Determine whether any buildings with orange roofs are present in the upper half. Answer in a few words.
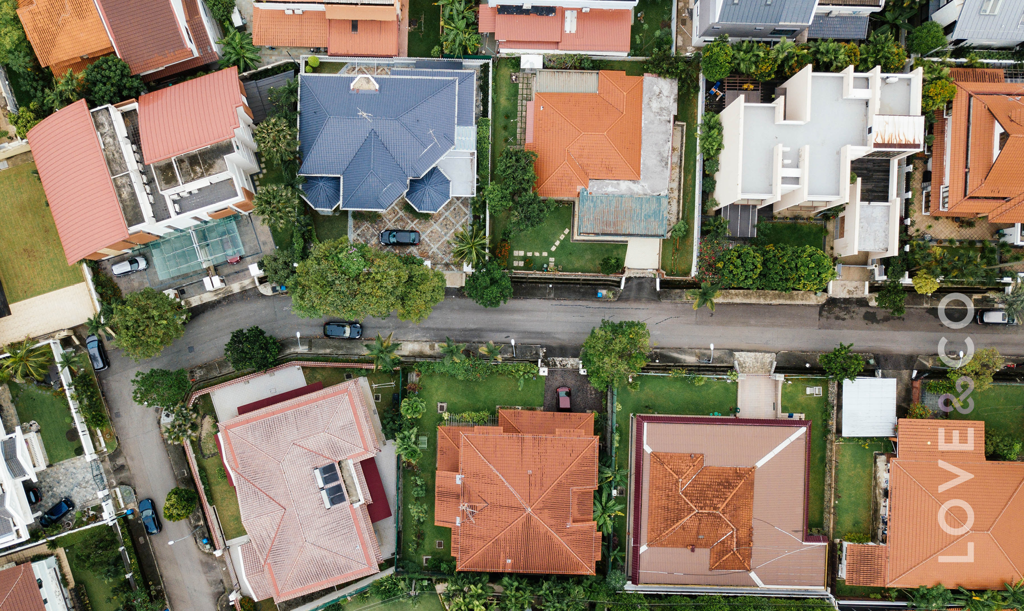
Yes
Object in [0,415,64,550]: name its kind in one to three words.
house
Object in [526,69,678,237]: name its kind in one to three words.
house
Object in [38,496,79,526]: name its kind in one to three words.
car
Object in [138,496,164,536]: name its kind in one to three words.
car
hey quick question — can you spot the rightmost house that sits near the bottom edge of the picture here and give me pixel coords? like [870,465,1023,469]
[832,418,1024,590]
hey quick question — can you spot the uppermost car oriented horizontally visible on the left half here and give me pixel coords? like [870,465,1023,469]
[380,227,421,247]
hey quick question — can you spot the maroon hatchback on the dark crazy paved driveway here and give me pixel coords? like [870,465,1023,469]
[554,382,573,412]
